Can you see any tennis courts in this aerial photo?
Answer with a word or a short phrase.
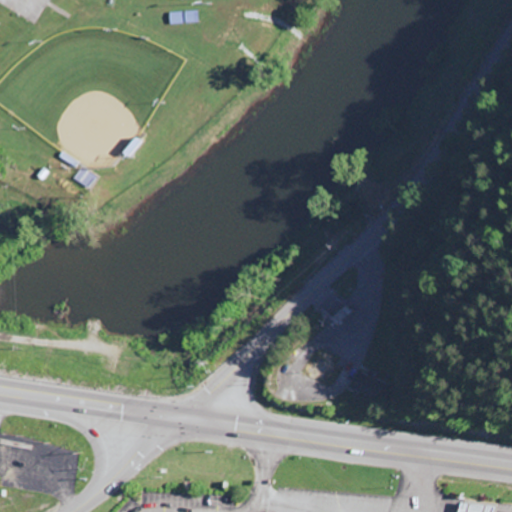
No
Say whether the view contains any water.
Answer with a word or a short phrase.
Yes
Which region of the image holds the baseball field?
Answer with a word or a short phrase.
top left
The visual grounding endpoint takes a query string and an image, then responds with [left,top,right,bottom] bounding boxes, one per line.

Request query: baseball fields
[0,28,186,169]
